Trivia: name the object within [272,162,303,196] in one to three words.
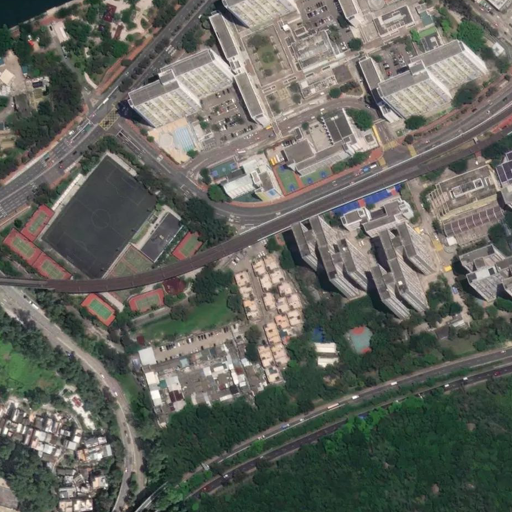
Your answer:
basketball court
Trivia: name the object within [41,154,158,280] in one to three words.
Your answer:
soccer field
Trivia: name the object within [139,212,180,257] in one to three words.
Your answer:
sports court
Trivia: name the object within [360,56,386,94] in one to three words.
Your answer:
building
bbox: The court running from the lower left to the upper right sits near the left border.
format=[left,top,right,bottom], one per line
[20,203,54,241]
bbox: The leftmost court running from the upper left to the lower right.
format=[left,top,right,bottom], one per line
[2,229,40,264]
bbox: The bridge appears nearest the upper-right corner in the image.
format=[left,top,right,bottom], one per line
[0,104,512,293]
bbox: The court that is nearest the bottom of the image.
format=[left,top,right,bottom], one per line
[350,326,372,354]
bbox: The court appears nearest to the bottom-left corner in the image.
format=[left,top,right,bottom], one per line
[80,293,116,326]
